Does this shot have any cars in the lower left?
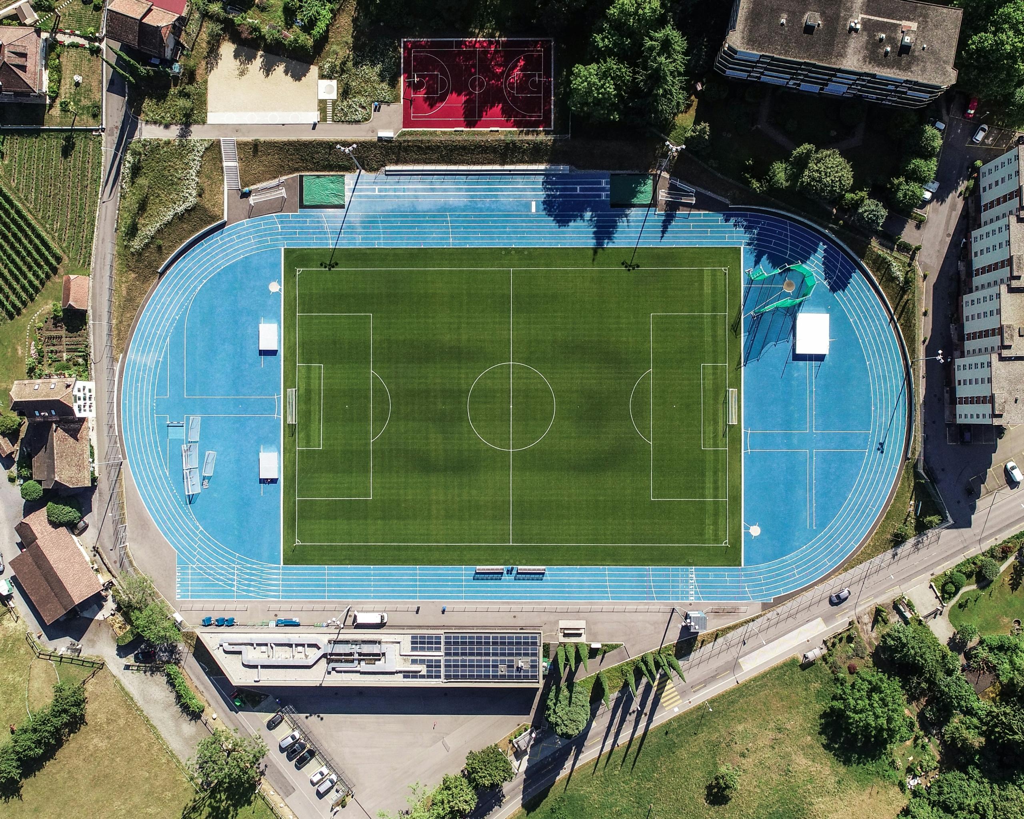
Yes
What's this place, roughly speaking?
sports ground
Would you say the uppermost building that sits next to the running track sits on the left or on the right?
right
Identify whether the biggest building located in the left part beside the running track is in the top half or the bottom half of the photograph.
bottom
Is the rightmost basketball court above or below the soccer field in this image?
above it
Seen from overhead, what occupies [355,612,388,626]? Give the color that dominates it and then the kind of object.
white vehicle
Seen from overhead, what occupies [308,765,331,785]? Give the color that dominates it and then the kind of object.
white car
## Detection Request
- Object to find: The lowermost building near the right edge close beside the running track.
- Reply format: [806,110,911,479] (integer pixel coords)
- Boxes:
[938,355,1024,425]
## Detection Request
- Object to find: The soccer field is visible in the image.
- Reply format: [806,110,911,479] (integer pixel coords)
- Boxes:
[283,247,742,566]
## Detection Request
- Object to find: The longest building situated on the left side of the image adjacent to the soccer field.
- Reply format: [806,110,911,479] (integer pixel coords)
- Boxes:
[193,626,542,687]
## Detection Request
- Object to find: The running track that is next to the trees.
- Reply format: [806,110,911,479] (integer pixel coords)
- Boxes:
[121,172,907,602]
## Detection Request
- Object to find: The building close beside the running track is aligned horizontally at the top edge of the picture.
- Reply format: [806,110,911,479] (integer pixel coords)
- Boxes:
[707,0,963,119]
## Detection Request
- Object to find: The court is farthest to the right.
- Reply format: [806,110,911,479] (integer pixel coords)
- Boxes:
[402,38,553,130]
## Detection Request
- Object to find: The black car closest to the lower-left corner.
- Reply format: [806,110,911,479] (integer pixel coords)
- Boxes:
[135,651,155,663]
